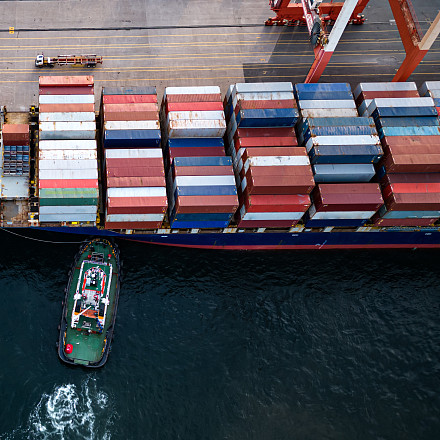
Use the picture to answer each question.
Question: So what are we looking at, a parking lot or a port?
port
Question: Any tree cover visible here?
No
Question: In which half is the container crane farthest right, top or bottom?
top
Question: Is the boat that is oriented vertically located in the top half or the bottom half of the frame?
bottom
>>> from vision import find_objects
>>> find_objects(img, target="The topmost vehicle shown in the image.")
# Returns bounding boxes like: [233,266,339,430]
[34,52,104,69]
